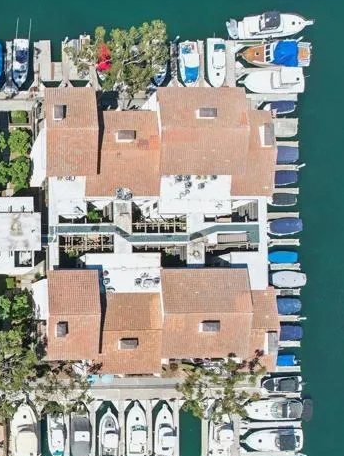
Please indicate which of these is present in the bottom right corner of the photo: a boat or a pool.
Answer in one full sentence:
What appears in the bottom right corner of the photo is a boat.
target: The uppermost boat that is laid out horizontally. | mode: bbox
[237,11,317,43]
